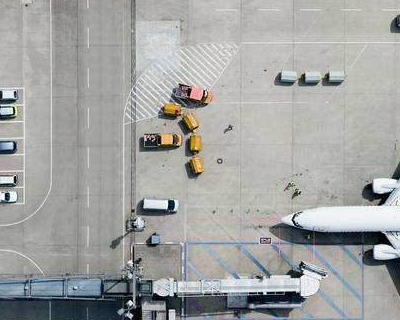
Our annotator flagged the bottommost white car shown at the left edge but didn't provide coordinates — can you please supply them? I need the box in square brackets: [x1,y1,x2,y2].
[0,190,18,202]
